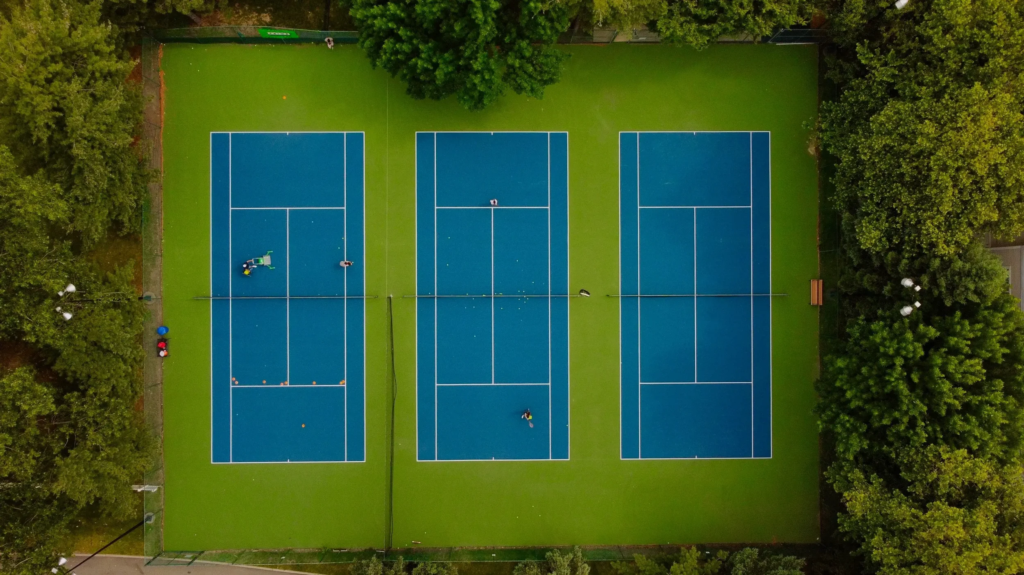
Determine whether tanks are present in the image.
No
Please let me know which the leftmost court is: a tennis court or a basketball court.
tennis court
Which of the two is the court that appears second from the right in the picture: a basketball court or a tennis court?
tennis court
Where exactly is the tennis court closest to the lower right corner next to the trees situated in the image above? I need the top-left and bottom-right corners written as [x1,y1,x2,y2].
[620,132,771,458]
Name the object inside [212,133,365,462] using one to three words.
tennis court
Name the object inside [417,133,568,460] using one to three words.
tennis court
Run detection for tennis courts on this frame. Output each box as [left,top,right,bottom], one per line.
[212,133,365,462]
[417,133,568,460]
[620,132,771,458]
